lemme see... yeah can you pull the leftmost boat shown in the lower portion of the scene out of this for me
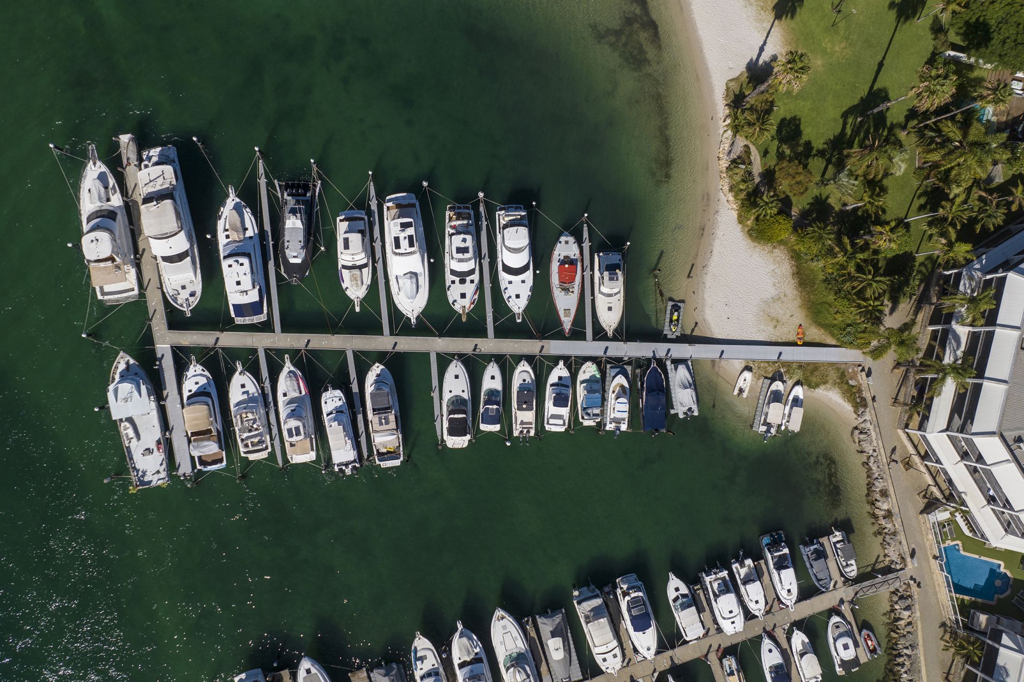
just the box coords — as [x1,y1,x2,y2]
[86,336,174,497]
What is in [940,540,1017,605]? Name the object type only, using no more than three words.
swimming pool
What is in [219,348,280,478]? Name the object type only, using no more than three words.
boat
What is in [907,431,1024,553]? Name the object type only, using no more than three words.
building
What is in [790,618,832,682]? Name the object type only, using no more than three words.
boat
